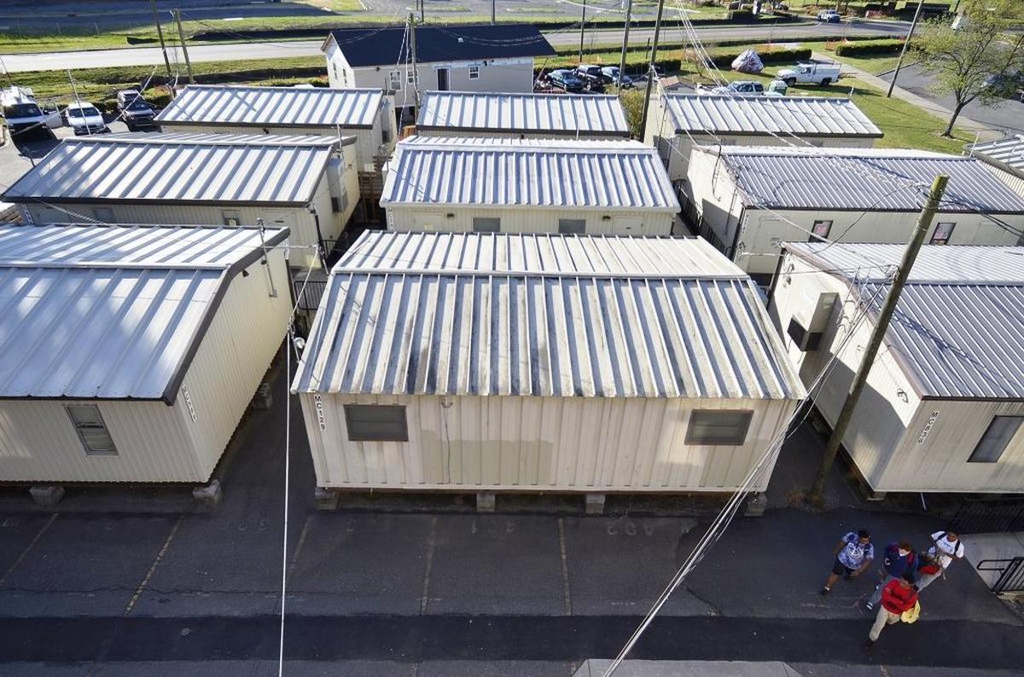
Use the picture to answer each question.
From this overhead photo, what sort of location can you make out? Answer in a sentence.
It's a parking lot.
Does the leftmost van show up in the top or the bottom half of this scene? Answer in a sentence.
It is in the top half that the leftmost van appears.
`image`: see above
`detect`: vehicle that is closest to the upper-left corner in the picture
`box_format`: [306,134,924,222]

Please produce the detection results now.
[0,78,73,136]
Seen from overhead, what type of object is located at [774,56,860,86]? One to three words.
truck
